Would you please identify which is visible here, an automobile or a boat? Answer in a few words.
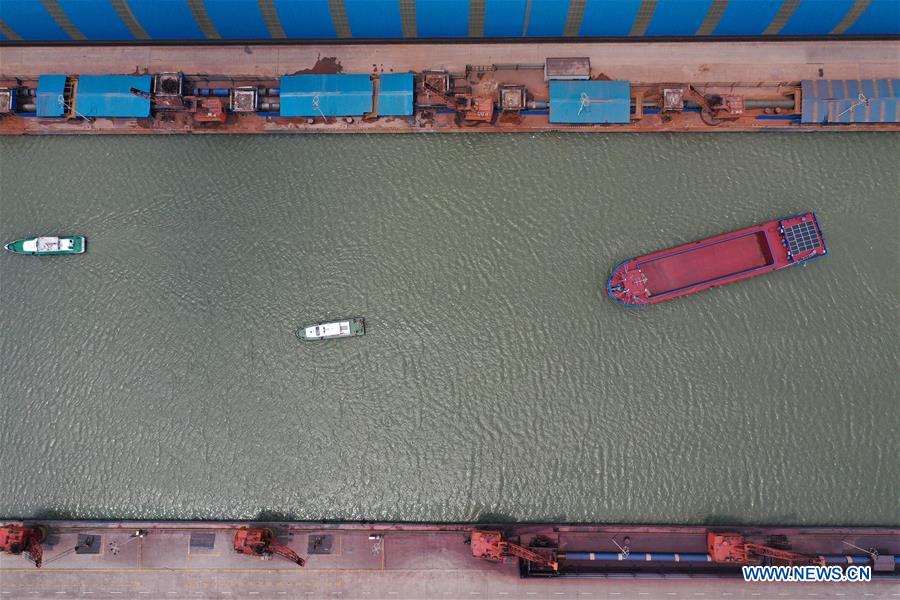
boat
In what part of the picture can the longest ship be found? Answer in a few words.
right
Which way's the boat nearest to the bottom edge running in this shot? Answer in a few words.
from left to right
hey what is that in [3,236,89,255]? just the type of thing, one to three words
boat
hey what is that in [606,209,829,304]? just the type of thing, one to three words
ship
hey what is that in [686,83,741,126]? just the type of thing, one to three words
crane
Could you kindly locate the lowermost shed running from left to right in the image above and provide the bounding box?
[546,58,590,79]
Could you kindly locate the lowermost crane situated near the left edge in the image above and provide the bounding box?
[0,519,78,569]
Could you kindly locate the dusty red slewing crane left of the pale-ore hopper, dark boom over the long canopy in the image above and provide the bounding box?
[128,85,234,126]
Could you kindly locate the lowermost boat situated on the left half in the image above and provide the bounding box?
[295,318,367,341]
